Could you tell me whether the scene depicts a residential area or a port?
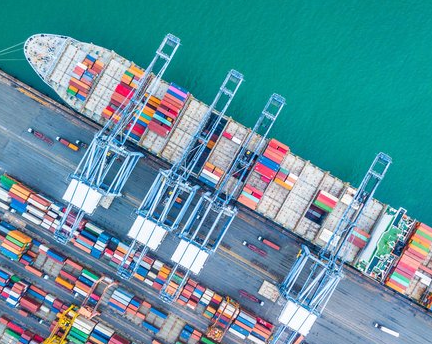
port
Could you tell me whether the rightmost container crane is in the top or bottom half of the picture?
bottom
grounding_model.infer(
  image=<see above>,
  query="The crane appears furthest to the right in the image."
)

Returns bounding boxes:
[275,155,395,344]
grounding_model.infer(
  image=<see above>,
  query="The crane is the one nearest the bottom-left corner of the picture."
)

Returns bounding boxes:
[42,299,87,344]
